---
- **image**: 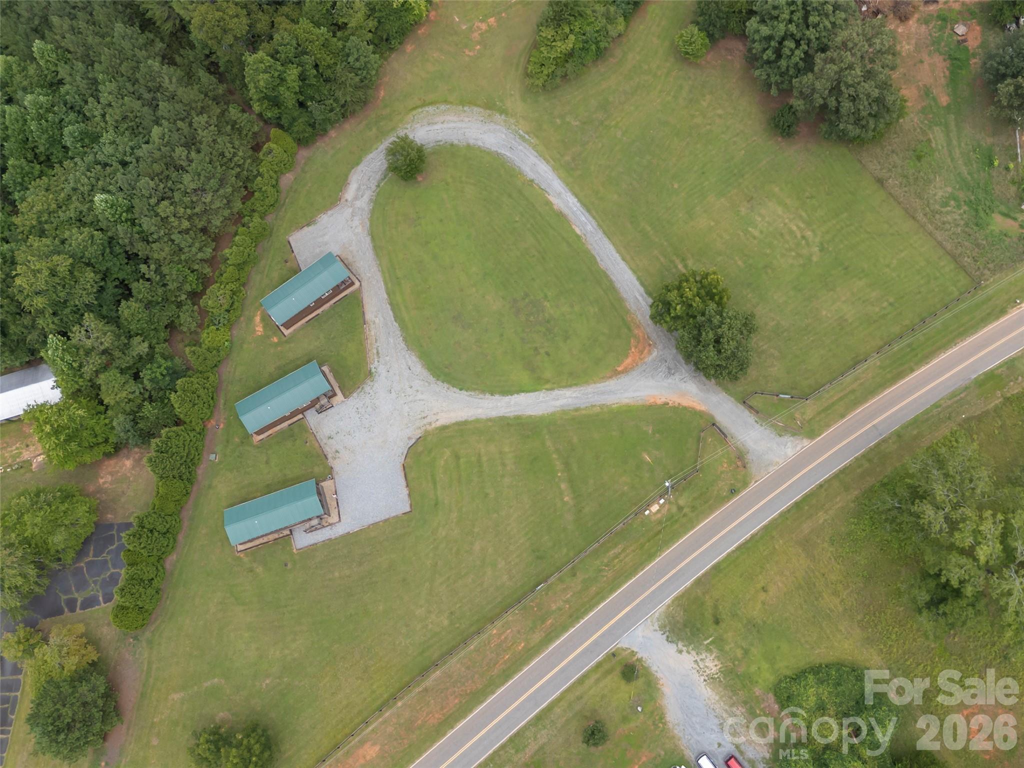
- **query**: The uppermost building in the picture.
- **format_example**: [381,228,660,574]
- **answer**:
[262,252,352,329]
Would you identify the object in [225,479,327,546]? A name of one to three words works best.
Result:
building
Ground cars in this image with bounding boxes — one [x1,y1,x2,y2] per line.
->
[725,751,749,768]
[696,751,720,768]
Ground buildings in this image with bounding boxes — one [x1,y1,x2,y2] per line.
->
[225,479,327,546]
[237,361,335,435]
[262,252,352,329]
[0,364,71,419]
